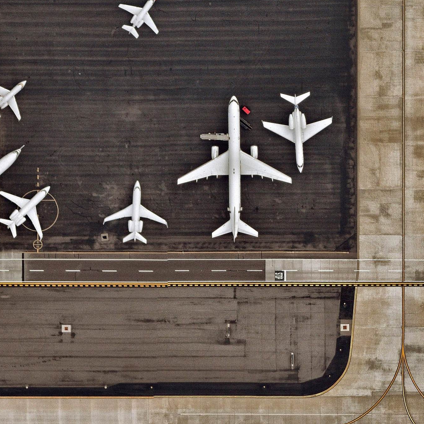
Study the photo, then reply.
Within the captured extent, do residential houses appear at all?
No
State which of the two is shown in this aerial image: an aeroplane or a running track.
aeroplane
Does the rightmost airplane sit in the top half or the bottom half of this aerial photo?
top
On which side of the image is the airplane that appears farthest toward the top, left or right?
left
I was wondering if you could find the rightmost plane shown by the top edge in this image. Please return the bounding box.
[118,0,158,38]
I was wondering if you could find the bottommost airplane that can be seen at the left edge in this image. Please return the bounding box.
[0,187,50,241]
